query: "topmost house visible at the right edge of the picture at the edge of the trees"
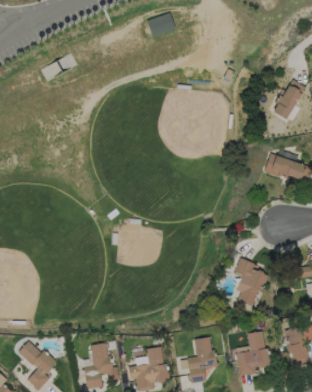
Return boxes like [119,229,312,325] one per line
[274,76,308,120]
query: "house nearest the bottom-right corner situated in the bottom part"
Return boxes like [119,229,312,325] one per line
[286,328,308,364]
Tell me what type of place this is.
sports ground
